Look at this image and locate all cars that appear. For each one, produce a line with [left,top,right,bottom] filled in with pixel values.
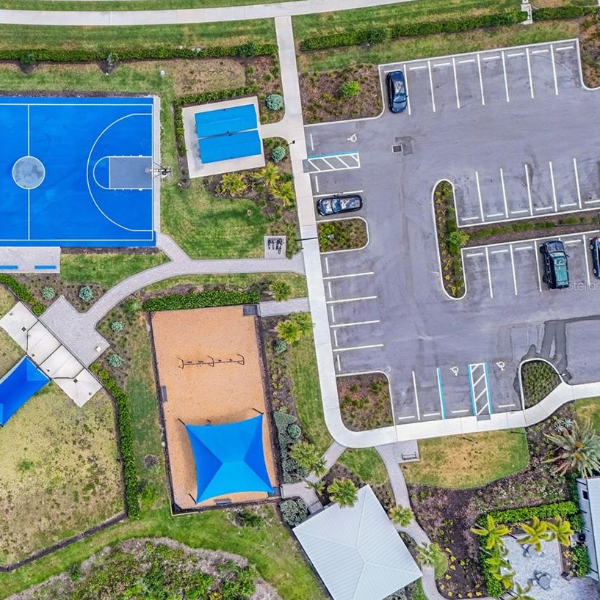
[315,194,363,216]
[383,69,410,115]
[587,237,600,278]
[539,242,570,289]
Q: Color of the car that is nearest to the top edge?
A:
blue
